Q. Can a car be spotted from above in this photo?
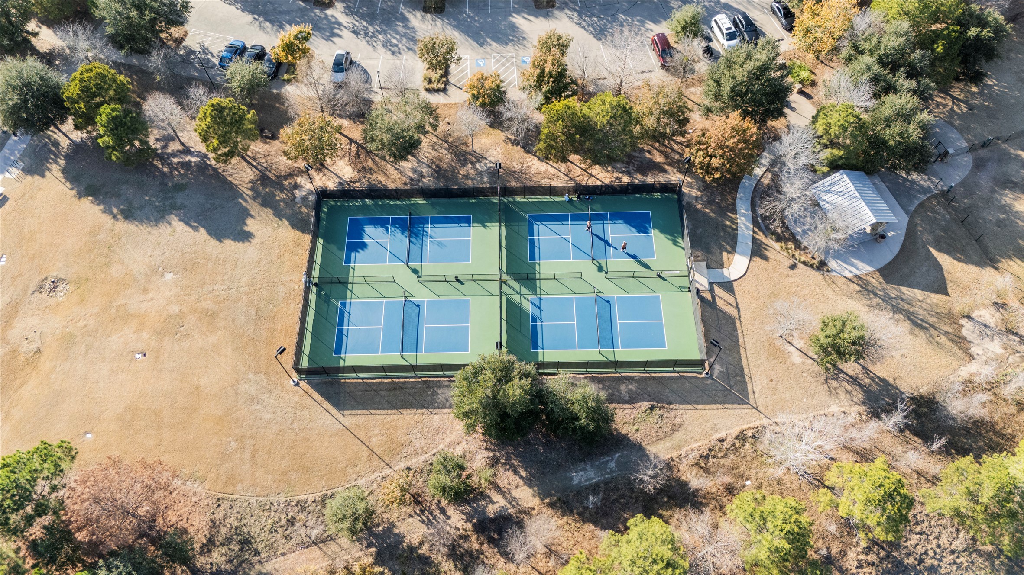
Yes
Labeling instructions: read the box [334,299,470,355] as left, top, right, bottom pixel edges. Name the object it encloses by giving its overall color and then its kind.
blue sports court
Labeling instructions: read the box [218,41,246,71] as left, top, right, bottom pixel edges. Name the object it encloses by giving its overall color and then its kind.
blue car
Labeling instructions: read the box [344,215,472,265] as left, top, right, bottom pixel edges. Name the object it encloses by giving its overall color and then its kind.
blue sports court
